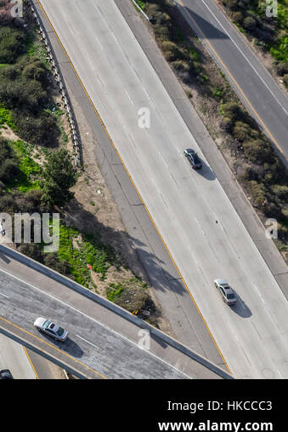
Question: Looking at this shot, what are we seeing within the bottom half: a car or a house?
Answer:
car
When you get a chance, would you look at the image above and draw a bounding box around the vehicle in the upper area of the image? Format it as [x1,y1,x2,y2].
[182,148,203,171]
